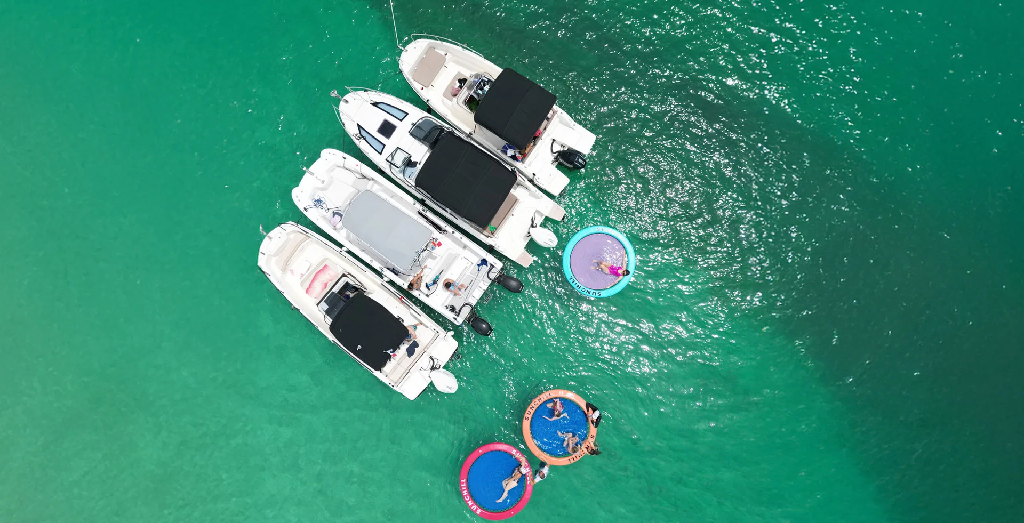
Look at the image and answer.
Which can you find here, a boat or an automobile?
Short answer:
boat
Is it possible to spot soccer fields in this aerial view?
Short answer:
No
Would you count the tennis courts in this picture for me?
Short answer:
none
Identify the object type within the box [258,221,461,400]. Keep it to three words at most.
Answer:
boat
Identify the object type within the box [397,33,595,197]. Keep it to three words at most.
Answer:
boat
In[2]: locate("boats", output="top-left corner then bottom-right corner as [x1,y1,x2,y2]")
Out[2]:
[333,87,565,268]
[292,148,525,335]
[258,221,461,400]
[397,33,595,197]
